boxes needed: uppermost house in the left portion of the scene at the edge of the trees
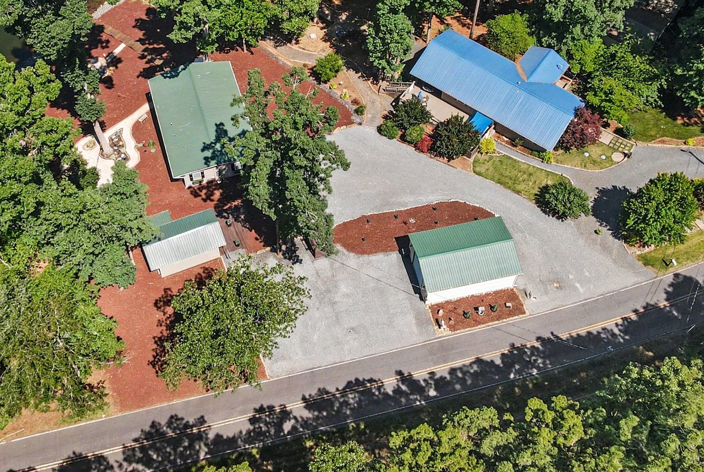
[148,56,259,188]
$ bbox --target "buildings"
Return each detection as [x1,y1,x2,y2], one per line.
[142,209,227,278]
[148,56,259,188]
[410,217,523,302]
[410,29,585,156]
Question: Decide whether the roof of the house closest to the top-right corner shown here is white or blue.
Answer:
blue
